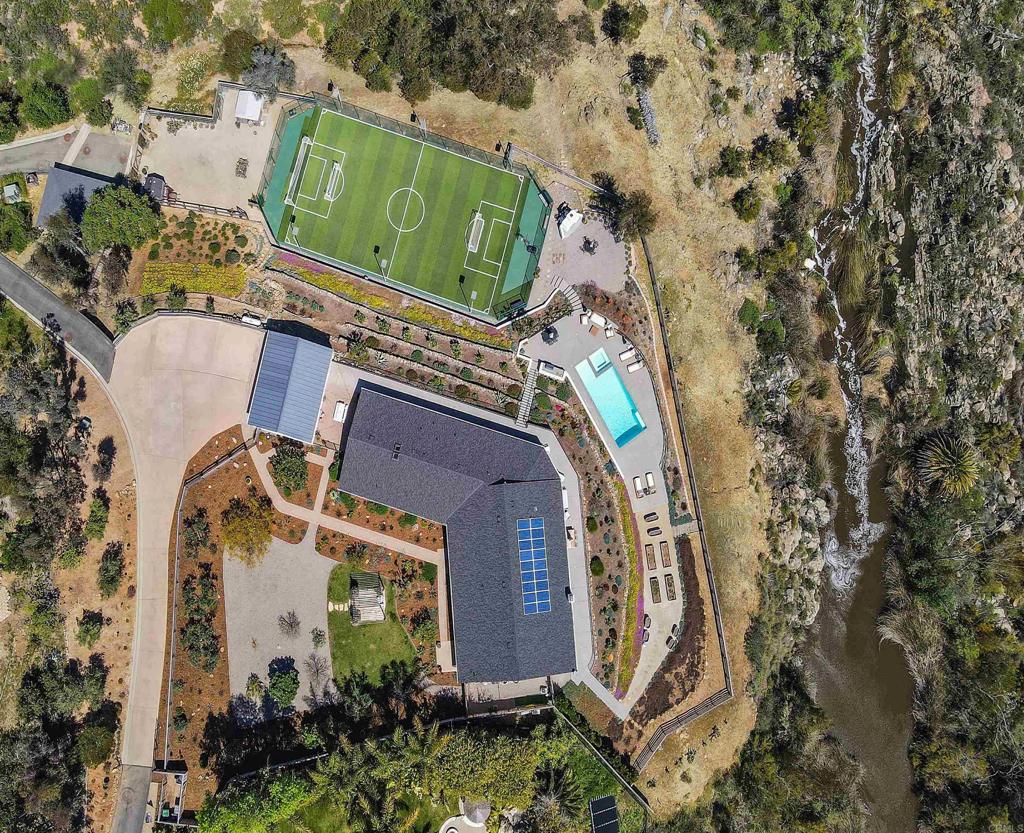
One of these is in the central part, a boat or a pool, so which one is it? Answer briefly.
pool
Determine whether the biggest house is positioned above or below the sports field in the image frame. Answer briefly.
below it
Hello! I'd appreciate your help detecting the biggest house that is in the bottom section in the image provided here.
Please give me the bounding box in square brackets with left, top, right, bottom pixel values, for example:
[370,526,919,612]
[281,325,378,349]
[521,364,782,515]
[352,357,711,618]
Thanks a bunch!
[338,388,576,683]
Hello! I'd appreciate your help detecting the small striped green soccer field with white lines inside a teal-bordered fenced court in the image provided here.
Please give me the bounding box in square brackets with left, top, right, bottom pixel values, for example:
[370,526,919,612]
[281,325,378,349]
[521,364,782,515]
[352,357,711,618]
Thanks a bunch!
[263,103,552,325]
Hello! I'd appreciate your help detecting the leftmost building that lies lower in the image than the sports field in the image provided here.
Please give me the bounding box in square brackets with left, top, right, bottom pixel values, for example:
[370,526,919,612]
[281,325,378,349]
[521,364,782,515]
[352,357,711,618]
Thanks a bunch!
[248,331,333,443]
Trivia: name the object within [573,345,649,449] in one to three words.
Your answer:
swimming pool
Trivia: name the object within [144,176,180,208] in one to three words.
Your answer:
shed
